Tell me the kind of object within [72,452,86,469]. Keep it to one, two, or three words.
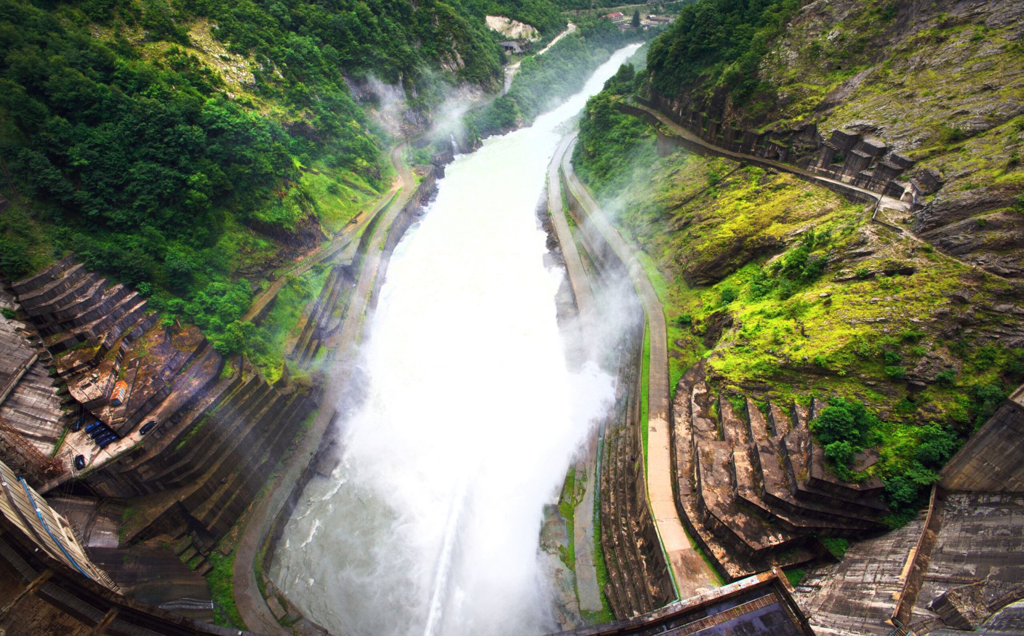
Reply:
car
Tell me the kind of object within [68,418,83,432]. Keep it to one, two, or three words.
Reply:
car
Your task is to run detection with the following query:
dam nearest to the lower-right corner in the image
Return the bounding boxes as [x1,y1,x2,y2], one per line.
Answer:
[788,486,1024,636]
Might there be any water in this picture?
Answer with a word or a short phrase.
Yes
